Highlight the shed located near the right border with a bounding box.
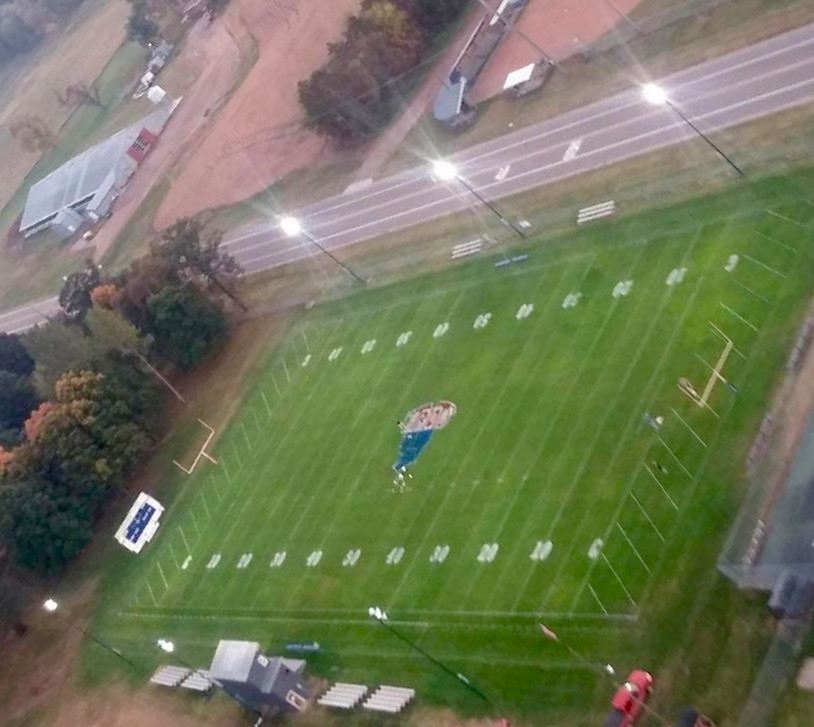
[764,572,814,617]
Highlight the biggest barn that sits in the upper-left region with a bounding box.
[14,104,172,246]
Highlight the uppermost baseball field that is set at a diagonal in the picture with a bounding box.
[471,0,650,110]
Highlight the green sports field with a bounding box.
[84,141,814,716]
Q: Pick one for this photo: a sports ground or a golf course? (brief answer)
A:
sports ground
